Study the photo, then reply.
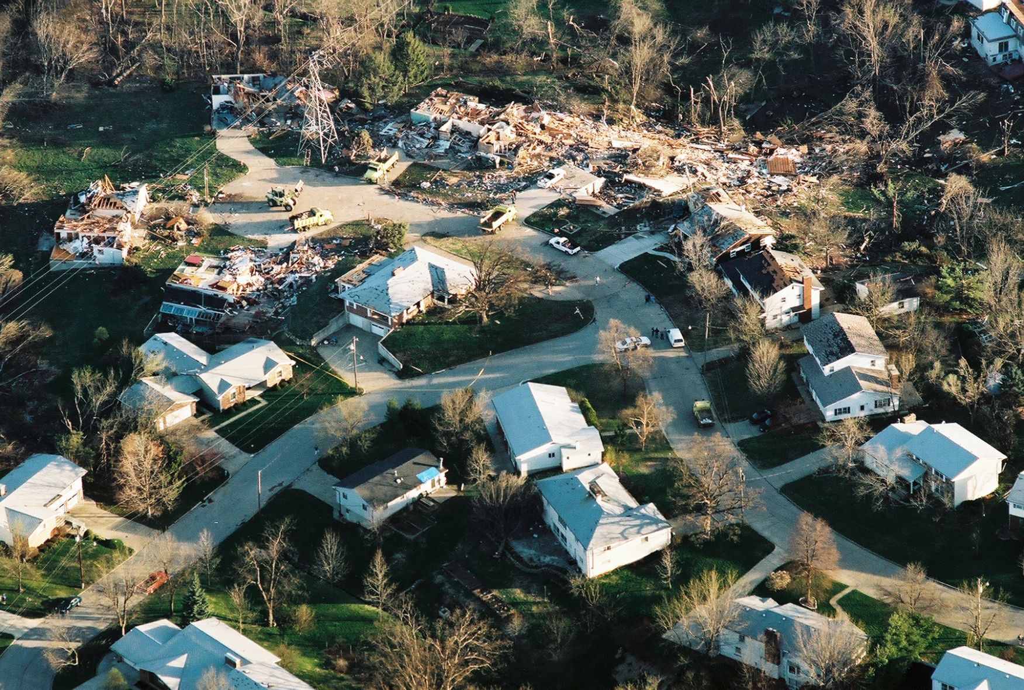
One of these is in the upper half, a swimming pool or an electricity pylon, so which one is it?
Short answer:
electricity pylon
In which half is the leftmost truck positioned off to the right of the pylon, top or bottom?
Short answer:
top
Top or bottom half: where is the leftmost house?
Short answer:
bottom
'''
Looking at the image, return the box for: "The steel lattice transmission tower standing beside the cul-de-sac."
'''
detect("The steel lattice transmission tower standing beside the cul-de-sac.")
[293,41,341,164]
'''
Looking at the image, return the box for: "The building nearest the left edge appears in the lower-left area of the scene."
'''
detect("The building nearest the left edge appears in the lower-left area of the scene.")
[0,452,88,575]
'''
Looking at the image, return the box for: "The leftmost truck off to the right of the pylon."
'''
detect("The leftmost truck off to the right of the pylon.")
[361,150,400,184]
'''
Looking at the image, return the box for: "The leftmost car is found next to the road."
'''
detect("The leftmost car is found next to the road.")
[44,593,85,615]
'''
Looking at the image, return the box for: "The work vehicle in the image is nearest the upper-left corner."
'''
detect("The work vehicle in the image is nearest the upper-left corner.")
[260,179,312,210]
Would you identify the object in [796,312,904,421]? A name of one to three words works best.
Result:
house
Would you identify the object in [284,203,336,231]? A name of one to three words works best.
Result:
truck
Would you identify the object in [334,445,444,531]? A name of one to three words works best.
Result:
house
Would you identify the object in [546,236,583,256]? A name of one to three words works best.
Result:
vehicle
